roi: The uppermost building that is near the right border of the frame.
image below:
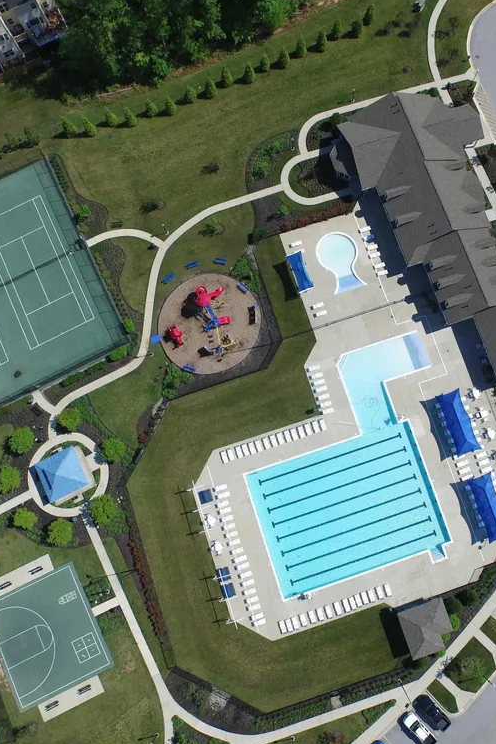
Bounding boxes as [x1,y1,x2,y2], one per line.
[329,94,496,378]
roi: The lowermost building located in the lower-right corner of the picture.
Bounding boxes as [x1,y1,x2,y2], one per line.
[398,597,453,660]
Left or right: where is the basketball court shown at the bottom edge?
left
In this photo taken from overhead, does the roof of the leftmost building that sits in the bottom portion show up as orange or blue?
blue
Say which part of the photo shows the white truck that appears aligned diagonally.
bottom right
